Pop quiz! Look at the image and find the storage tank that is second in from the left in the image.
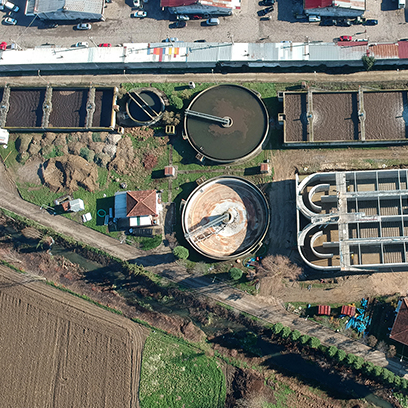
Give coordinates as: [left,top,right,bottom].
[125,89,169,128]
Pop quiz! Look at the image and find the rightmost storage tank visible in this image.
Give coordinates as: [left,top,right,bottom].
[282,91,408,145]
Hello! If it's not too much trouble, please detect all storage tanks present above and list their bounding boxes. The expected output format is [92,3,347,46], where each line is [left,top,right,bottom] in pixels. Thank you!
[282,91,408,145]
[125,89,169,128]
[0,88,122,132]
[178,175,272,264]
[181,85,271,166]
